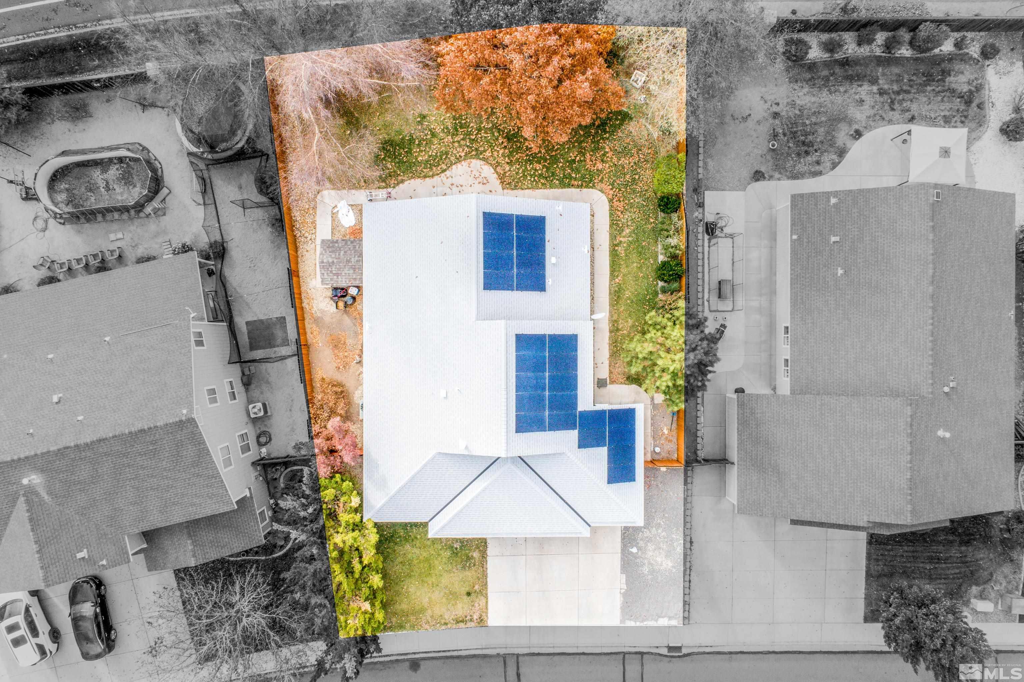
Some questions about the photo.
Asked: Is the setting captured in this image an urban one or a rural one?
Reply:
urban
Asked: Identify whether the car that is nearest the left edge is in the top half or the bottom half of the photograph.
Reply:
bottom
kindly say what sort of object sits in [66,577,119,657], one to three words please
car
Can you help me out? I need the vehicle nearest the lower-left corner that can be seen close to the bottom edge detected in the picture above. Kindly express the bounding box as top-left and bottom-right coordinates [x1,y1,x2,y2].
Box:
[0,589,61,664]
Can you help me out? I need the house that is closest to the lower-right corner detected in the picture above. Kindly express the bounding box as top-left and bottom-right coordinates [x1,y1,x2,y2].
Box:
[726,182,1016,535]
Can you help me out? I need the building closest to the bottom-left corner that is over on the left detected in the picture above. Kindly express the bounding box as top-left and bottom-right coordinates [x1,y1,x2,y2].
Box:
[0,251,274,592]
